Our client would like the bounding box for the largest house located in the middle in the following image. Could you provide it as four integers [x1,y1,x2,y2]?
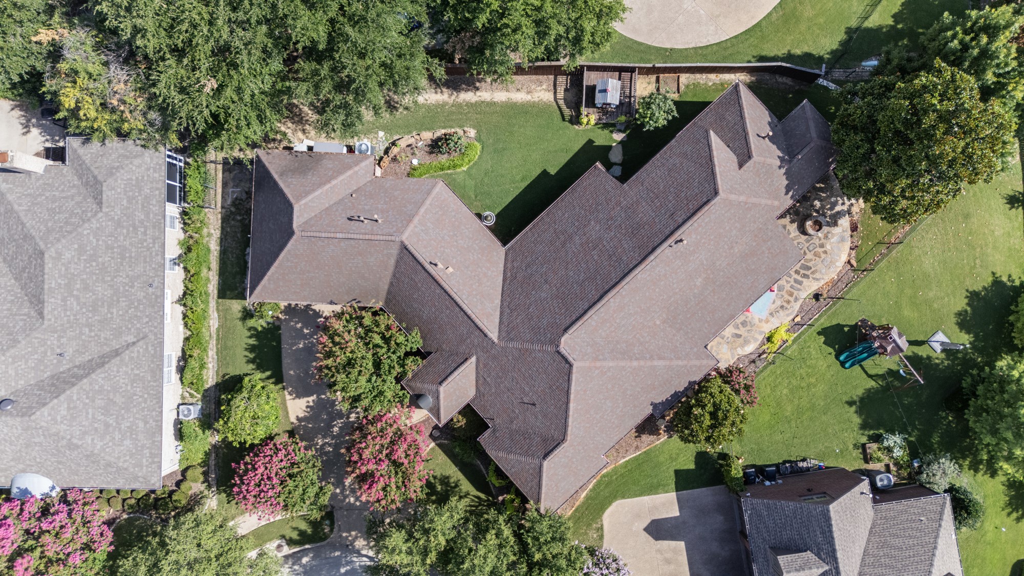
[246,79,839,516]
